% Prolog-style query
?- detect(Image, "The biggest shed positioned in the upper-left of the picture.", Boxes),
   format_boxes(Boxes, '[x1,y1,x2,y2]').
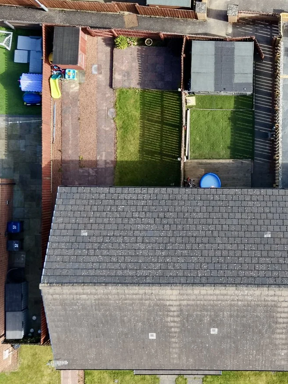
[51,26,86,68]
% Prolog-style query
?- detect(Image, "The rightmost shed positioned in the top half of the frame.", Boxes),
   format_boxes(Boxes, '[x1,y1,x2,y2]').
[190,39,254,97]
